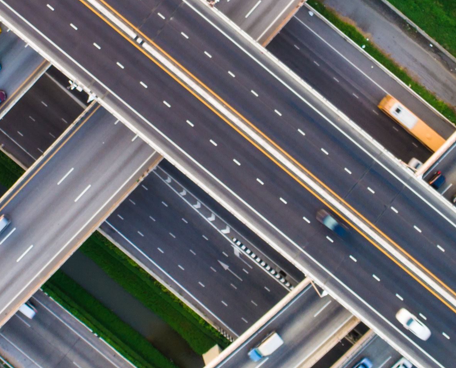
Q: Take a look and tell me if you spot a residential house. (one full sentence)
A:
No, the photo shows no residential house.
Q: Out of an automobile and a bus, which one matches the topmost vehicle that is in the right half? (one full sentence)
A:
Looking closely, the topmost vehicle that is in the right half is a bus.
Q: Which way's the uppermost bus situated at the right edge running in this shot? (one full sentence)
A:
The uppermost bus situated at the right edge is oriented diagonally.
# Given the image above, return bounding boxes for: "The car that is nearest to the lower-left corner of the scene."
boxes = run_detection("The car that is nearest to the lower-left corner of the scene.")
[17,301,40,323]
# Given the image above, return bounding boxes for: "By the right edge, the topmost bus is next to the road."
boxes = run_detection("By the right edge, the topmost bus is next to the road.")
[377,94,448,156]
